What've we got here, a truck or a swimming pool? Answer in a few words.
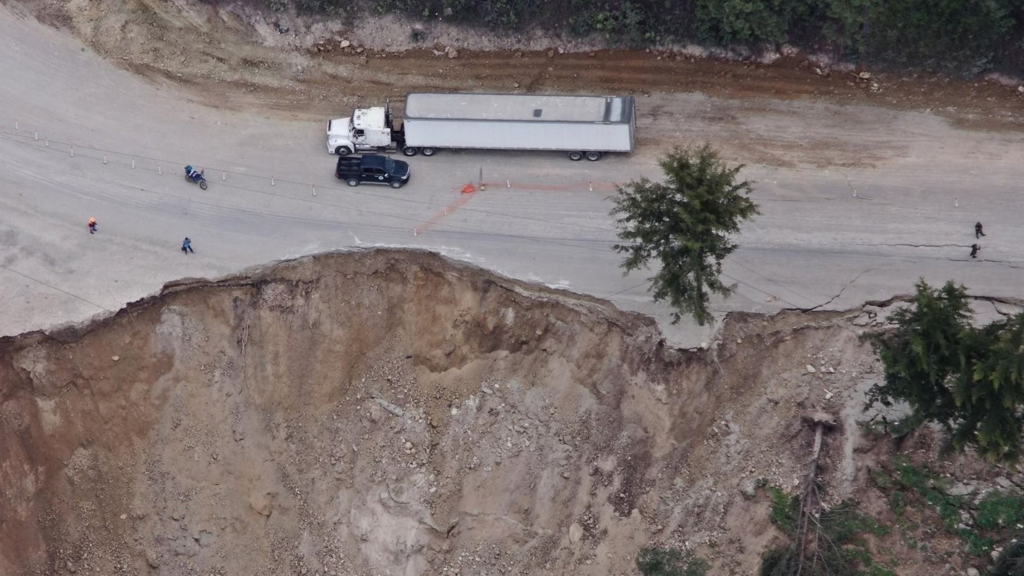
truck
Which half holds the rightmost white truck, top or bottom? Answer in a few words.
top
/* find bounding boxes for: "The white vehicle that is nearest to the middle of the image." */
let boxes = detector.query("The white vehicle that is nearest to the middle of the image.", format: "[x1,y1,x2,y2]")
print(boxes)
[323,91,637,161]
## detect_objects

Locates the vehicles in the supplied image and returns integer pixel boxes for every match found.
[334,151,410,188]
[323,91,637,161]
[183,172,208,190]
